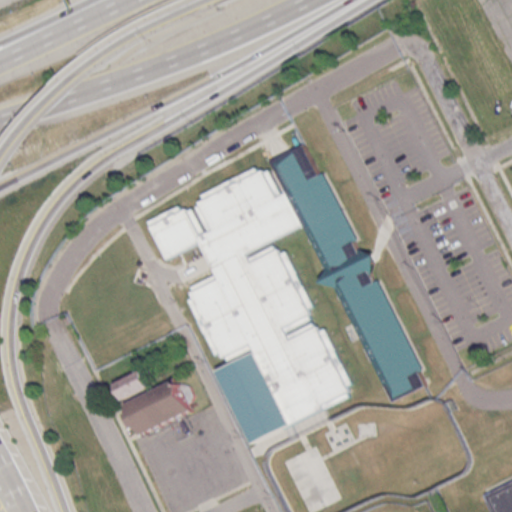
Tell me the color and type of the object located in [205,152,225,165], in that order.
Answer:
white vehicle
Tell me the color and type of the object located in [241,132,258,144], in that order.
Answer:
white vehicle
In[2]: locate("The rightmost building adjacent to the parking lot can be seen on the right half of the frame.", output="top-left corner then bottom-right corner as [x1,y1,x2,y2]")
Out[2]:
[271,146,428,402]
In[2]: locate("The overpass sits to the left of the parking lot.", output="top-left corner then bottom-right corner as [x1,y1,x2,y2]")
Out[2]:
[0,0,236,182]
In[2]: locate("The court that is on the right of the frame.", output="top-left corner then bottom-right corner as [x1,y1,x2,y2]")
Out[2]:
[286,448,342,512]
